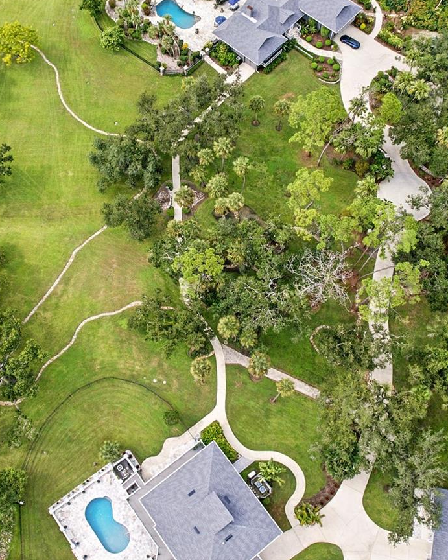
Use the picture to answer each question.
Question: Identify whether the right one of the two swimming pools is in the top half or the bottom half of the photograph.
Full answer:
It is in the top half that the right one of the two swimming pools appears.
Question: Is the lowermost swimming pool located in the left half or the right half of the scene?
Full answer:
The lowermost swimming pool sits on the left side.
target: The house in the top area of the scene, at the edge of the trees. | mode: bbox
[212,0,362,81]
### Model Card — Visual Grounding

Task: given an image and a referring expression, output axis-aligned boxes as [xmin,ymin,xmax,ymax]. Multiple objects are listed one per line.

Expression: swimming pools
[154,0,202,30]
[83,495,132,556]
